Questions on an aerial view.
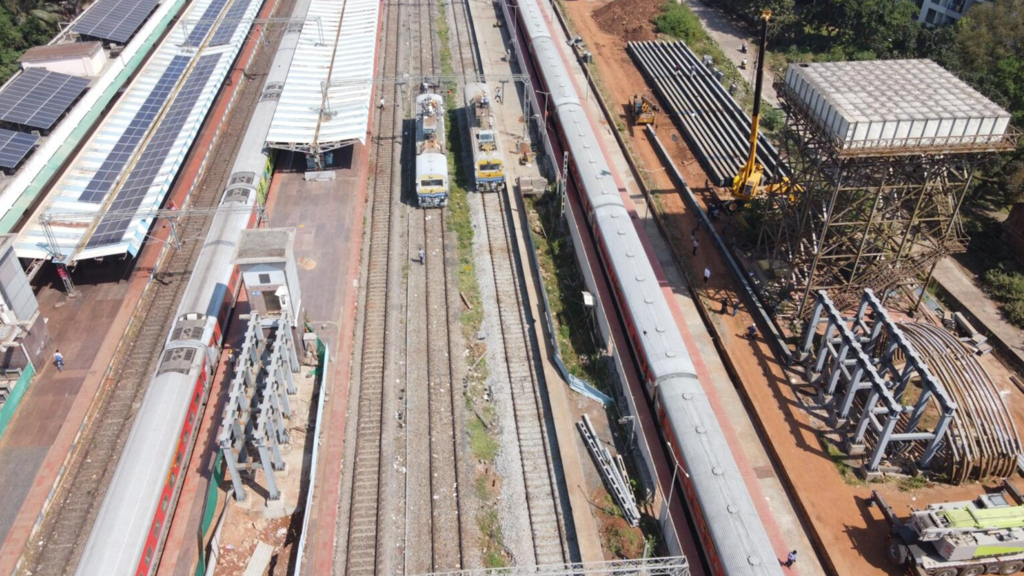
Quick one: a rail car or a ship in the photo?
rail car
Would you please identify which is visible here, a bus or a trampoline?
bus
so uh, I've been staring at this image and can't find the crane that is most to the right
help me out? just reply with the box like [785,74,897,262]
[866,477,1024,576]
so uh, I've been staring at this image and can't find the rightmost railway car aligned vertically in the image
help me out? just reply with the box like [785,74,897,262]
[465,90,504,193]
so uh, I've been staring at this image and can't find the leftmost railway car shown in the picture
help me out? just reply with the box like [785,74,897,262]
[415,101,447,209]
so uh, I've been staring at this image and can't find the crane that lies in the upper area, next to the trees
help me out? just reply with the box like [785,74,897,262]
[701,10,822,225]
